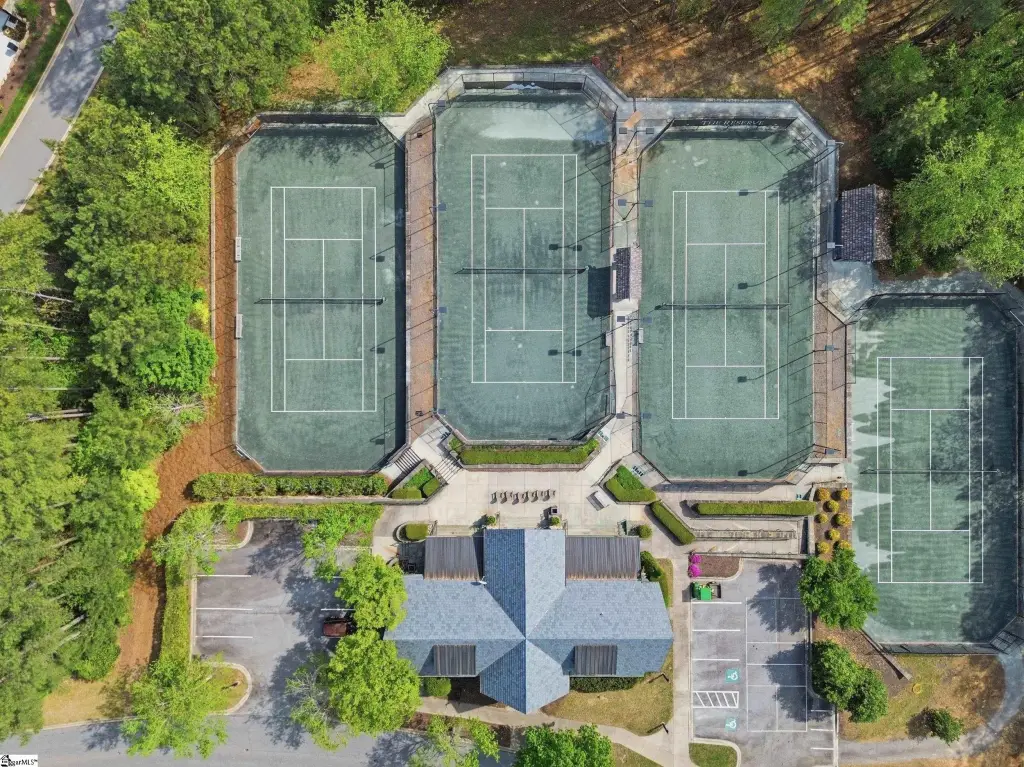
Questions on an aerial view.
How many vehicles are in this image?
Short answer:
2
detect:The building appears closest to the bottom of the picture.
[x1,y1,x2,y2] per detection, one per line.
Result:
[383,529,672,713]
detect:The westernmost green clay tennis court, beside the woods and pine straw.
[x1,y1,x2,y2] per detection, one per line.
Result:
[236,126,404,471]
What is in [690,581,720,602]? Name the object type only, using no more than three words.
work vehicle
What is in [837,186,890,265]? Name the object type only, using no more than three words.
building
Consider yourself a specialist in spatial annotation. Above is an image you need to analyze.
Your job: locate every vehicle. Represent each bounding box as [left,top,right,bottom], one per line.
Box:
[321,620,365,643]
[690,581,720,602]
